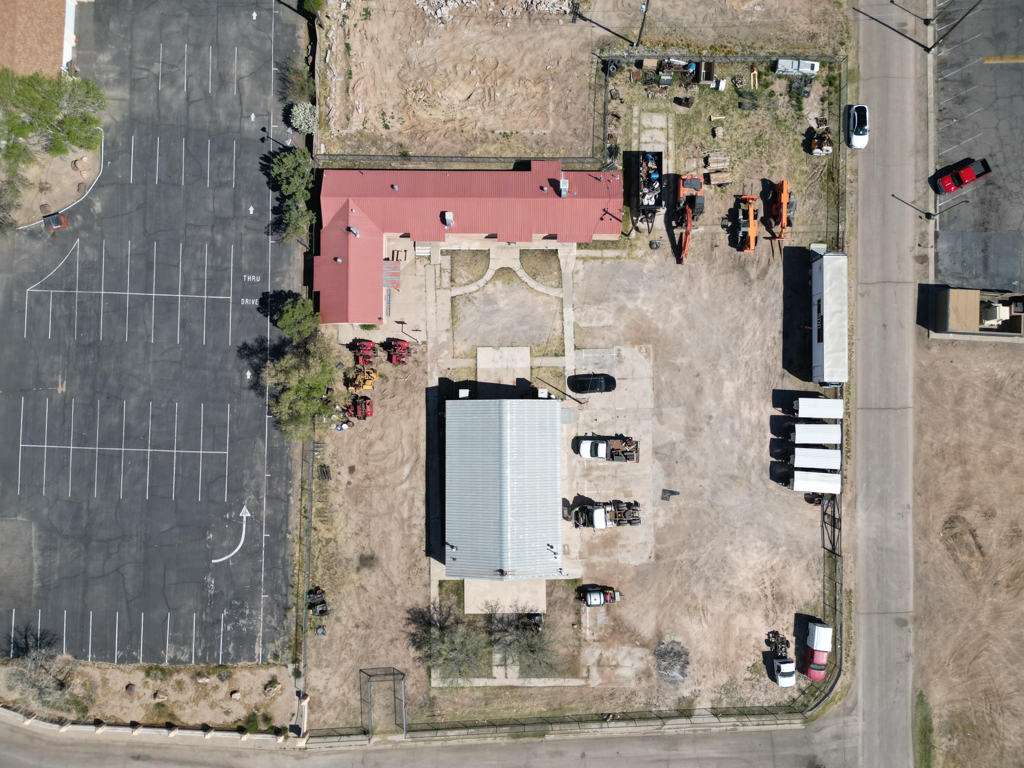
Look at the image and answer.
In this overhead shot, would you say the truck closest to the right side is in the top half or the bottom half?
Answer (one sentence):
The truck closest to the right side sits in the top half of the picture.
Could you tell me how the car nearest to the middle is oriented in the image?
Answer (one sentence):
The car nearest to the middle is oriented horizontally.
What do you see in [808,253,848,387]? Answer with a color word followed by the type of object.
white trailer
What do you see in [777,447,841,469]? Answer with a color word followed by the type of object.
white trailer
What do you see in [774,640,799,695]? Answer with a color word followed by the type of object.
white truck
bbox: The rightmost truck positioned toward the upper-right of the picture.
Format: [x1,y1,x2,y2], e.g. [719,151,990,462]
[936,156,998,197]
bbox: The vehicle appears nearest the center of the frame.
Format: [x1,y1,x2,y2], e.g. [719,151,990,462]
[573,373,617,395]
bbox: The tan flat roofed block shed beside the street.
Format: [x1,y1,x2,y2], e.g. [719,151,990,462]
[934,289,980,333]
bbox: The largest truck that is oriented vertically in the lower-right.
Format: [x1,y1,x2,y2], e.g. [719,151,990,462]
[808,623,838,681]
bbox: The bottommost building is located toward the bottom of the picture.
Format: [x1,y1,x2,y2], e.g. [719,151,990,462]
[445,389,566,580]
